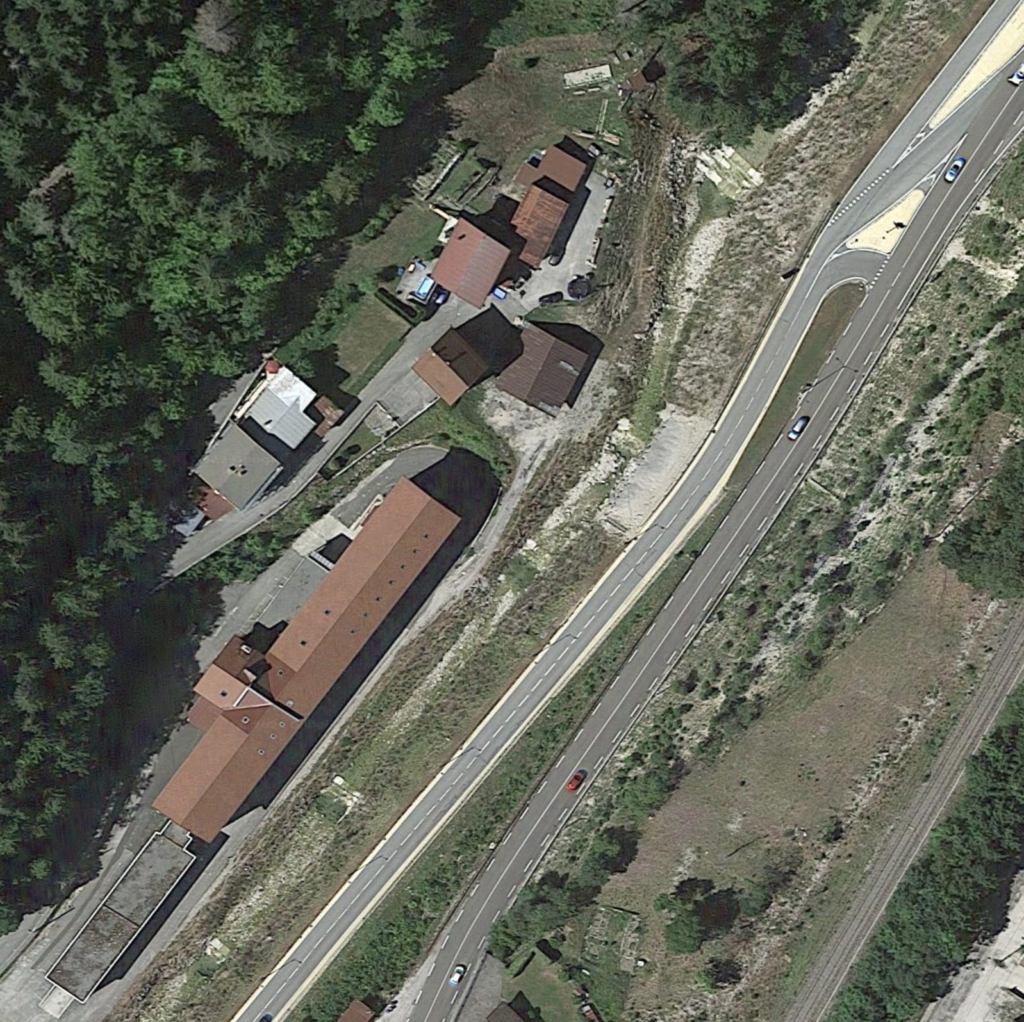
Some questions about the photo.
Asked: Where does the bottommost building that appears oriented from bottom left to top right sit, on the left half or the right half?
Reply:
left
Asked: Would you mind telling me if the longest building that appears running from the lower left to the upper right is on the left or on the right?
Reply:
left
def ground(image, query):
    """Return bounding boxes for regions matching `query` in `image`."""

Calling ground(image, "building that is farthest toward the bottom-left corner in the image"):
[46,821,195,1003]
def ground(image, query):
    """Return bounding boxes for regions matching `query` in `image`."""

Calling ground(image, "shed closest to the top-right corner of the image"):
[619,70,649,96]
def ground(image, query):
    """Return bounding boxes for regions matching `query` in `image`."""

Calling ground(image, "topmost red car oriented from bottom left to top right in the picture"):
[567,770,586,793]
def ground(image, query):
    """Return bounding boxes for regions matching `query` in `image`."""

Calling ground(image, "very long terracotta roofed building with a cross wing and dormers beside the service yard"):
[152,476,461,843]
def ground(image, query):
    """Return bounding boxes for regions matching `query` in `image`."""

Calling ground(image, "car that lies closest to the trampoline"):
[540,291,563,304]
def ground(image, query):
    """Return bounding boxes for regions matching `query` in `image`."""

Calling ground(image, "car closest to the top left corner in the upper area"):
[431,288,447,309]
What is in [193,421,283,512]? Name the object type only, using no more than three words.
house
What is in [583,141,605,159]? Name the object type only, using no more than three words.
vehicle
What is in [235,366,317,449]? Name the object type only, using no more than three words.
house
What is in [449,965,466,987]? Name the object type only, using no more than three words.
car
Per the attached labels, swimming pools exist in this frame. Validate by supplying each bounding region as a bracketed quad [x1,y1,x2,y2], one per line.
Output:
[416,276,433,298]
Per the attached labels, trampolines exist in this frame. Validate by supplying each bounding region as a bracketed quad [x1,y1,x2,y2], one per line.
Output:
[570,279,588,297]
